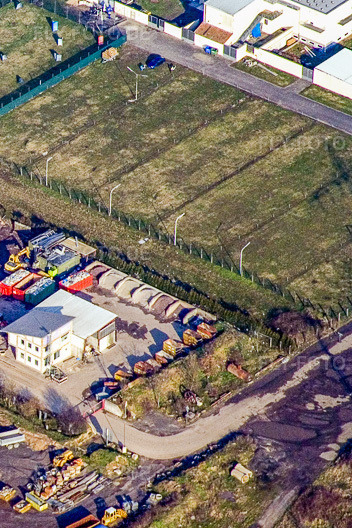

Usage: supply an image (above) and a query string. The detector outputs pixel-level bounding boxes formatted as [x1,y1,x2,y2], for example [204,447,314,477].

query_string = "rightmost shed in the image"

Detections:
[314,47,352,99]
